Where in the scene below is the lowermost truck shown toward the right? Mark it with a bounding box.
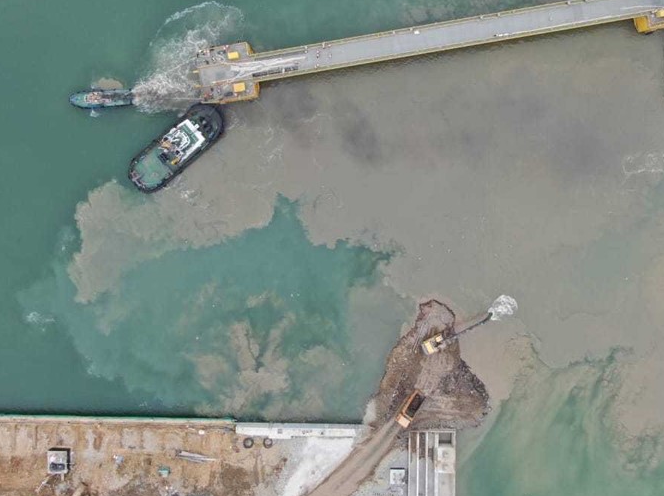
[396,390,429,430]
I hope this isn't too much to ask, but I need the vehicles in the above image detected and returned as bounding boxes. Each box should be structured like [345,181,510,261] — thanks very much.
[396,390,429,430]
[418,308,499,358]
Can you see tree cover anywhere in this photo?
No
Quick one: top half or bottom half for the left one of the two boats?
top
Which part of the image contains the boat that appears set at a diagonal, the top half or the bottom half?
top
